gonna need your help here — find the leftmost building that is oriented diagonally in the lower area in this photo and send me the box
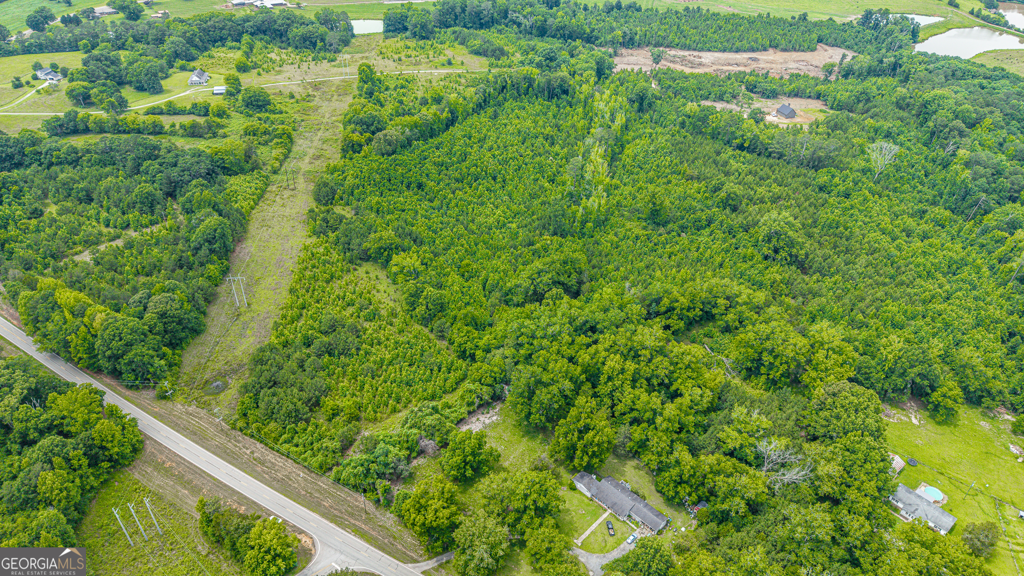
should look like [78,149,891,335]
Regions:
[572,471,668,535]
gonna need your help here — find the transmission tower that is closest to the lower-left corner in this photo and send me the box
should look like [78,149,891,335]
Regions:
[225,274,247,306]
